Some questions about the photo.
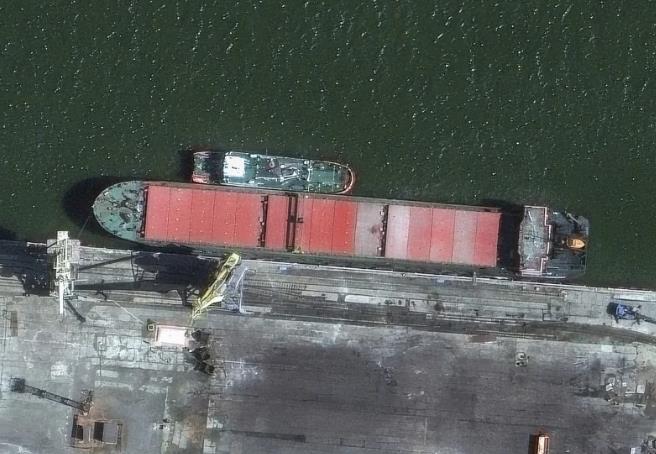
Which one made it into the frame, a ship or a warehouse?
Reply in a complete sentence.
Visible in the photo is a ship.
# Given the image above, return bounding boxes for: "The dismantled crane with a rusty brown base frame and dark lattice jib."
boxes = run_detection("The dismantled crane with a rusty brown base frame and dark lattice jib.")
[10,379,121,448]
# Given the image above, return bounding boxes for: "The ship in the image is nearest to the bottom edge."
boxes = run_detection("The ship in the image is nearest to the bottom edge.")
[90,181,591,275]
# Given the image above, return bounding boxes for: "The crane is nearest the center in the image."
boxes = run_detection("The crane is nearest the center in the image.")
[190,247,256,325]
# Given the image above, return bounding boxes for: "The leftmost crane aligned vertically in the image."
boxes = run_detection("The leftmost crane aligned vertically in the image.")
[43,234,86,321]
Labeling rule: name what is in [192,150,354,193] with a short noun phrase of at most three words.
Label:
boat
